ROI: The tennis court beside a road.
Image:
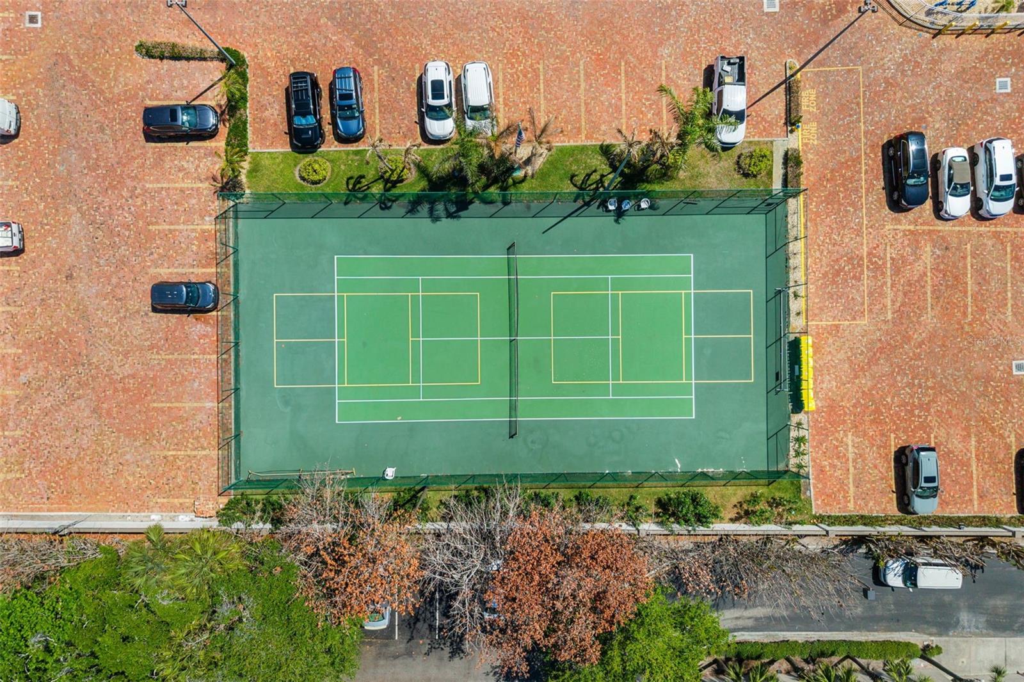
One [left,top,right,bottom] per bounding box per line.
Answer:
[233,200,791,482]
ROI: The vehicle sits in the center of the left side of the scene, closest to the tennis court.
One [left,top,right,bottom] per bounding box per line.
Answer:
[151,276,221,312]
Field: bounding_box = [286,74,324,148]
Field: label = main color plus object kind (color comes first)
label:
black car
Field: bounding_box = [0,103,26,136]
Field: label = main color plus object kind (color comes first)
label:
white car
